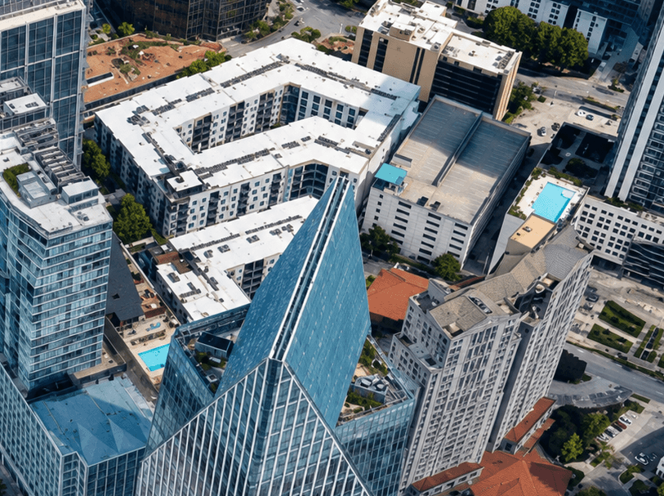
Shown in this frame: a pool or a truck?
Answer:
pool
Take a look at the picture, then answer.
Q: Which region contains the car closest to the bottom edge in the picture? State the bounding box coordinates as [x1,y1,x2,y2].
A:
[633,452,650,465]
